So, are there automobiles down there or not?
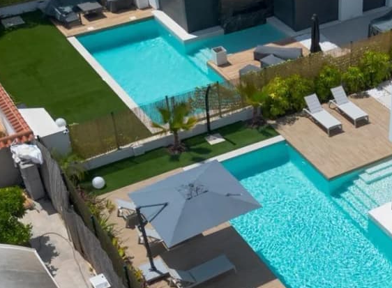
No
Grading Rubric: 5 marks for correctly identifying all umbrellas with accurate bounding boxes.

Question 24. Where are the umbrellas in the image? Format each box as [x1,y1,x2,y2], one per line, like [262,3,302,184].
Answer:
[127,160,268,277]
[298,9,328,60]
